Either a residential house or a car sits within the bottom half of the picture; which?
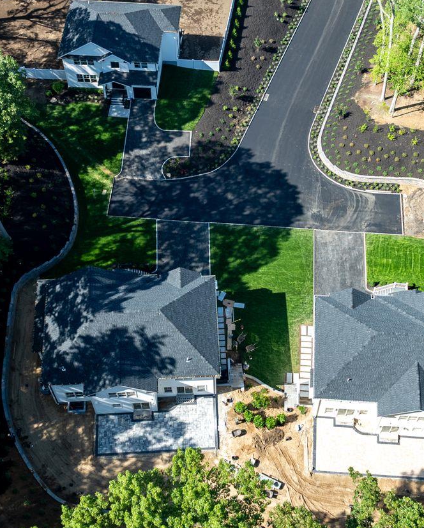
residential house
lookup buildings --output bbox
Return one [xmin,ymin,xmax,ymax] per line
[311,284,424,451]
[34,263,224,427]
[55,0,181,107]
